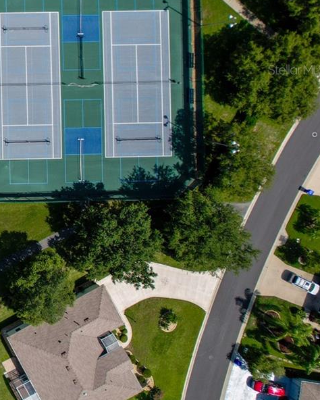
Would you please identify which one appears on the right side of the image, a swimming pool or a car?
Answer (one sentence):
There is a car on the right side of the image.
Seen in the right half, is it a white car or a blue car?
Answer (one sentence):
The one visible in the right half is a white car.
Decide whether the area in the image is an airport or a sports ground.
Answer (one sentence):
The area seen from above is a sports ground.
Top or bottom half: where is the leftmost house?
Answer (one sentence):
You can find the leftmost house in the bottom half.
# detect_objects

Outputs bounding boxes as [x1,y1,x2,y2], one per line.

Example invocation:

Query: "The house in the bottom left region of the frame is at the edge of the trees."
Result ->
[6,284,143,400]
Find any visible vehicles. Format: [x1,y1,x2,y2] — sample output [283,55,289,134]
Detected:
[291,273,320,292]
[256,378,286,396]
